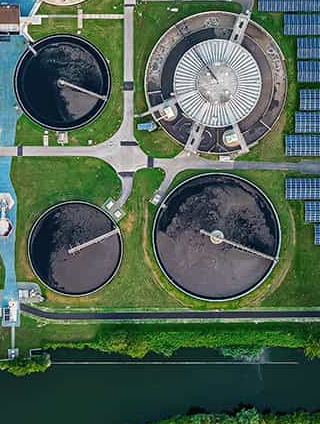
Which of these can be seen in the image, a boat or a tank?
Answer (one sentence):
The one in the frame is a tank.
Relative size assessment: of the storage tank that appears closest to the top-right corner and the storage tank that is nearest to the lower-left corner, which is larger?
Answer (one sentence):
Of the two, the storage tank that appears closest to the top-right corner is bigger, while the storage tank that is nearest to the lower-left corner is smaller.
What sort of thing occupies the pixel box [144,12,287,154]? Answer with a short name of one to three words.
storage tank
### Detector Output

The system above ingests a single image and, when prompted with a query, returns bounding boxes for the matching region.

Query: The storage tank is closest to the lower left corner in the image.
[28,200,123,295]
